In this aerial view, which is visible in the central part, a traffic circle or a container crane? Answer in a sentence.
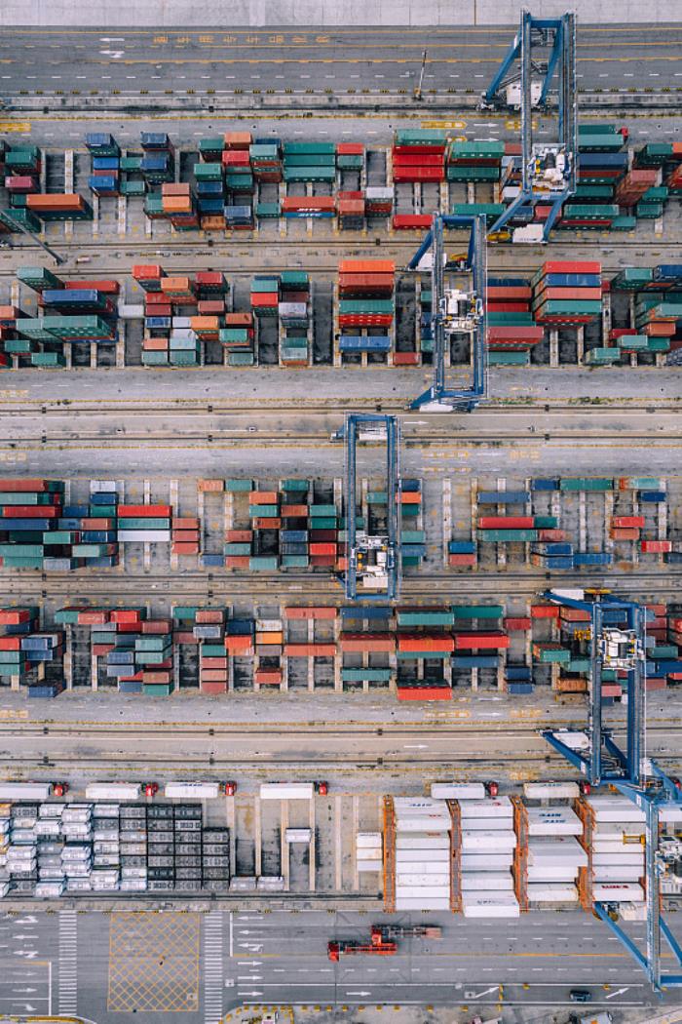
The one visible in the central part is a container crane.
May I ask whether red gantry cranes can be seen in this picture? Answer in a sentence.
No, I can't see a single red gantry crane in this photo.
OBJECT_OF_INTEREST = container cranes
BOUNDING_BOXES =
[530,579,644,786]
[473,14,576,253]
[578,758,682,987]
[326,413,408,600]
[398,211,487,413]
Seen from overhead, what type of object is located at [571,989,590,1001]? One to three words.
vehicle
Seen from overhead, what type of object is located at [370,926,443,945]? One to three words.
vehicle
